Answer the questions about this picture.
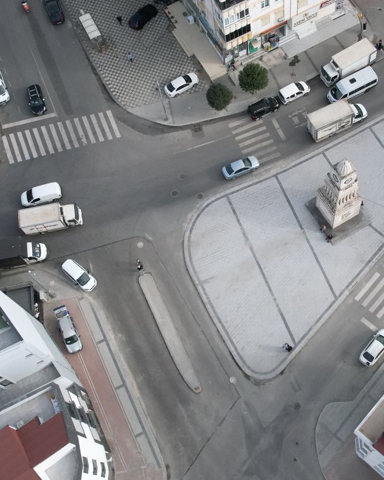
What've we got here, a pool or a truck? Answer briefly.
truck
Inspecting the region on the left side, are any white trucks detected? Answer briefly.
Yes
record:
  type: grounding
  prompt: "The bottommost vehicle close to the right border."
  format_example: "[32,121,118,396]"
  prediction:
[358,327,384,371]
